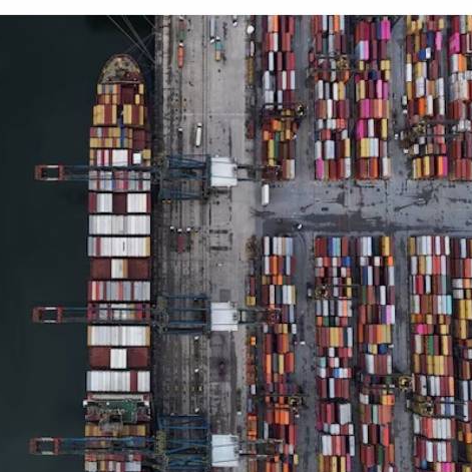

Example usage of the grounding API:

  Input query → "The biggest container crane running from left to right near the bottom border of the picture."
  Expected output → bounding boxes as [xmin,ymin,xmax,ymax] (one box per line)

[30,403,286,470]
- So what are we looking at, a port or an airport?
port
